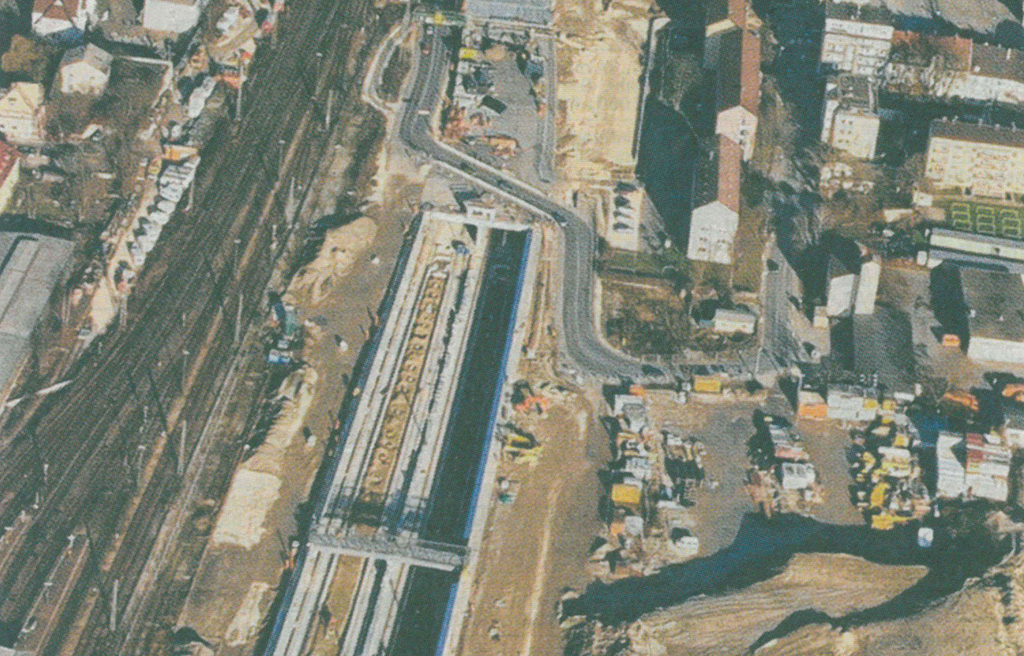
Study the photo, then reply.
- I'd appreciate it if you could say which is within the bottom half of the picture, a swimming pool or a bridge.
bridge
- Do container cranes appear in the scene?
No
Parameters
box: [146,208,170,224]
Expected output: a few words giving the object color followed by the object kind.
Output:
white vehicle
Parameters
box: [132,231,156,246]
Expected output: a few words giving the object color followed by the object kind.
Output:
white vehicle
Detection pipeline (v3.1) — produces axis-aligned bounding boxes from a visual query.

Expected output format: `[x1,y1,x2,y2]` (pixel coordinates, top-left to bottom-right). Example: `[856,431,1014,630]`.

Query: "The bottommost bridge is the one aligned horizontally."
[303,513,480,567]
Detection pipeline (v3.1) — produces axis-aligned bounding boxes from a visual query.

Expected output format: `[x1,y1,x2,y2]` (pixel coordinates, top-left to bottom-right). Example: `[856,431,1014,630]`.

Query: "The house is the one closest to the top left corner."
[22,0,88,34]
